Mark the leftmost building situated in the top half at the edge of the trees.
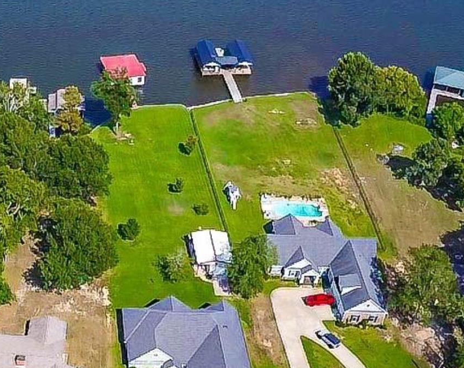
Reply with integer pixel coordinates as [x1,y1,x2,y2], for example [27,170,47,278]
[47,90,89,127]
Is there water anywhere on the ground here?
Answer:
Yes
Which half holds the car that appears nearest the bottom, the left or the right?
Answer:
right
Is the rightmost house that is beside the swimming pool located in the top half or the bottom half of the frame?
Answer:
bottom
